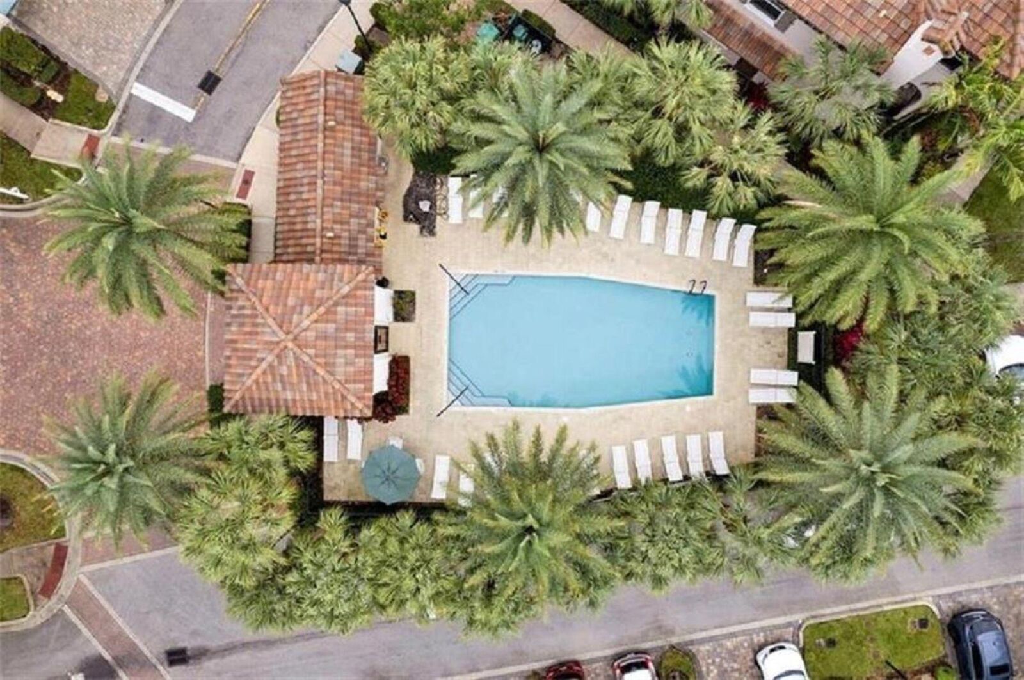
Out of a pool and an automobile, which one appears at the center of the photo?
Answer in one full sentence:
The one visible at the center of the photo is a pool.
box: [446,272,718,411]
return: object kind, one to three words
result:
swimming pool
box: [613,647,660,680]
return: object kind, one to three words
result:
car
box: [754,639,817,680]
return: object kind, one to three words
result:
car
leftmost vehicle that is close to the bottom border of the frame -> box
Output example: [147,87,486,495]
[545,656,588,680]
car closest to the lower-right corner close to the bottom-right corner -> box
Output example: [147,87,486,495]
[942,606,1015,680]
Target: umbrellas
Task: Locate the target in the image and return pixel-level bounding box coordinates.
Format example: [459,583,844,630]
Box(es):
[359,440,424,506]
